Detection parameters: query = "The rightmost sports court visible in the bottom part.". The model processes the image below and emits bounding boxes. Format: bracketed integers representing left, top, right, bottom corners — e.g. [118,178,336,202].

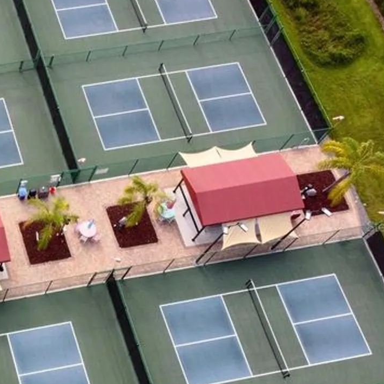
[115,236,384,384]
